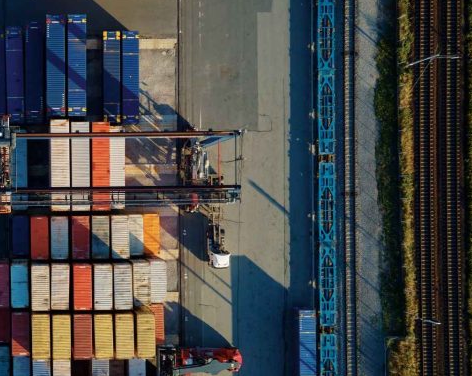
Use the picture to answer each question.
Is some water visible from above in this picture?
No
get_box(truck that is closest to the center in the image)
[206,174,229,271]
